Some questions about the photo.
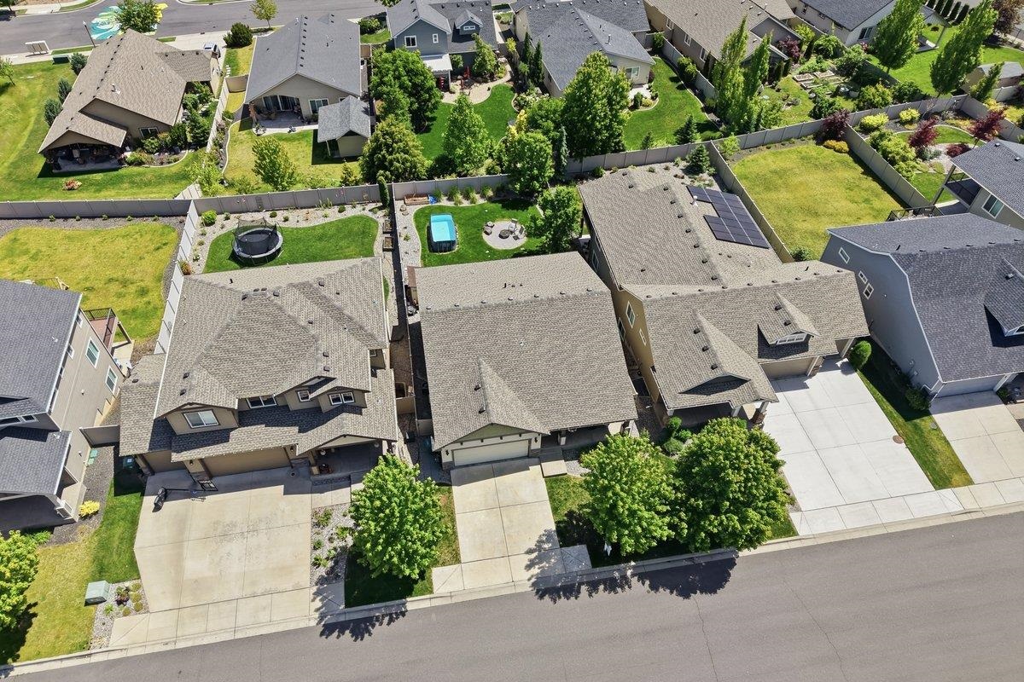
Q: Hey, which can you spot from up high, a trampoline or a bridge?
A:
trampoline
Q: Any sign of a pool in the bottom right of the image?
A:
No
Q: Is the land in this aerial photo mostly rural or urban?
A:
urban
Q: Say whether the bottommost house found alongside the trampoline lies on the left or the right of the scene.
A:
left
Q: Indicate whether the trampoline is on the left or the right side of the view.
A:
left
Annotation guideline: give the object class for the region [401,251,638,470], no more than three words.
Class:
house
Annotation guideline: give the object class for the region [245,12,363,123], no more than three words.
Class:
house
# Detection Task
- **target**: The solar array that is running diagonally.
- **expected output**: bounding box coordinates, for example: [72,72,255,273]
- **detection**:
[687,185,768,248]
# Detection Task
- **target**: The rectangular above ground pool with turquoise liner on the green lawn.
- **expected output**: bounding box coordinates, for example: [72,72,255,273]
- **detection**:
[428,213,461,253]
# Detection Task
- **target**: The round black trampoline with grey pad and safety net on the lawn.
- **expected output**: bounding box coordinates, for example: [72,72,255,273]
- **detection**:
[228,212,286,268]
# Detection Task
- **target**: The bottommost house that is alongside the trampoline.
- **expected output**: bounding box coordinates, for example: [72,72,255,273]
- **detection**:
[120,255,401,484]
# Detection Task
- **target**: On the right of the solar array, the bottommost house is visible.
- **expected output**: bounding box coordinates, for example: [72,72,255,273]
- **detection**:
[825,204,1024,404]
